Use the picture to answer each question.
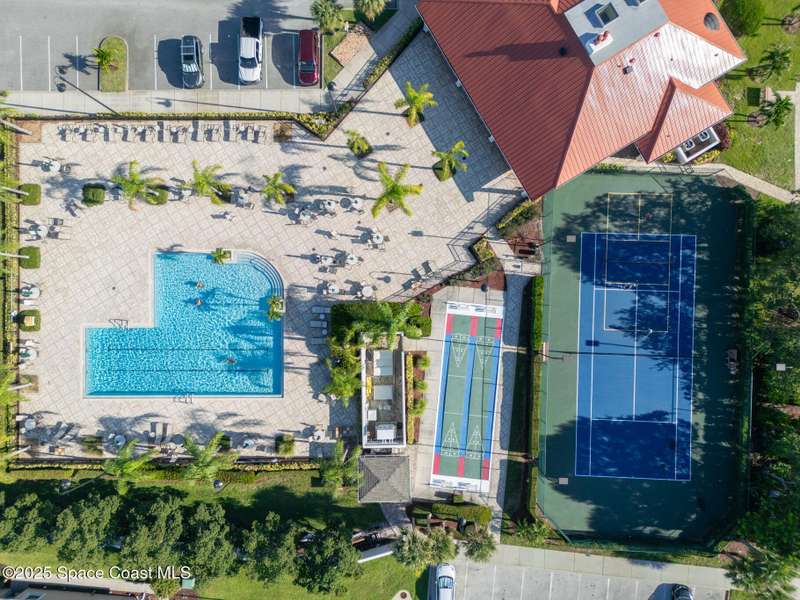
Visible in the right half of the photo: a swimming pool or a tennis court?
tennis court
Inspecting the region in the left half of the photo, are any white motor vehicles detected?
Yes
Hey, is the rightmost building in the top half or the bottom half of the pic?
top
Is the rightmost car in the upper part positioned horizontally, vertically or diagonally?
vertically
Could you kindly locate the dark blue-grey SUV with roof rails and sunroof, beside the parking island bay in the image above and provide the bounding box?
[177,34,204,90]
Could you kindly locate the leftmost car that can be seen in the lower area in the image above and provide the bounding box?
[434,561,458,600]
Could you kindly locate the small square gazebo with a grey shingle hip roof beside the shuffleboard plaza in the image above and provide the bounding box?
[359,450,411,503]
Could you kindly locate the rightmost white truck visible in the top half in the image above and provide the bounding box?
[237,16,263,84]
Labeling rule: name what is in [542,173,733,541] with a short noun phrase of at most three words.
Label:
tennis court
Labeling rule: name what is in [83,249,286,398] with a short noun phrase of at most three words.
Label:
swimming pool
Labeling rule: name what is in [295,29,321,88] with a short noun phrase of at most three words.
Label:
car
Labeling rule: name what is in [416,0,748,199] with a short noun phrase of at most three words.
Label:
building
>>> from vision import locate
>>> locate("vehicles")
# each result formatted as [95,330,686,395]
[295,29,321,88]
[672,583,696,600]
[177,34,204,90]
[434,561,458,600]
[237,16,263,84]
